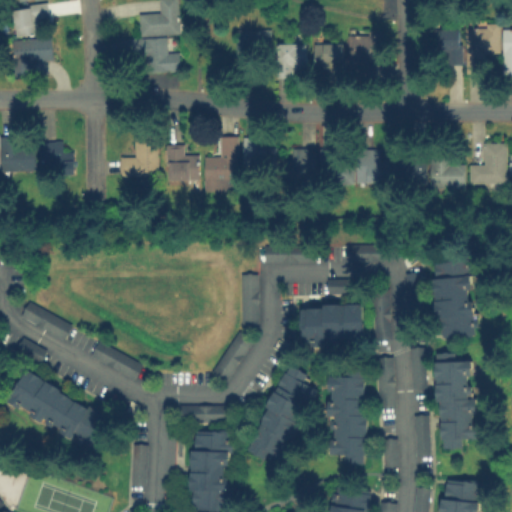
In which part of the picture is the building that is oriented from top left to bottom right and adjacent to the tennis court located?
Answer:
bottom left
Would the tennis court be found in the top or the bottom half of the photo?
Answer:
bottom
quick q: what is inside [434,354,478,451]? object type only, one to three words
building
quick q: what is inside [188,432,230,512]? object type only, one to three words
building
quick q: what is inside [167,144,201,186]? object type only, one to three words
house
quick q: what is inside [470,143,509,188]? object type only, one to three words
house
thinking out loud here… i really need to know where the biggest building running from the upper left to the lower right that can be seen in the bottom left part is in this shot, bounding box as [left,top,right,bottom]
[8,372,96,442]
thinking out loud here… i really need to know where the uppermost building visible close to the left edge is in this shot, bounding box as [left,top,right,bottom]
[12,4,50,38]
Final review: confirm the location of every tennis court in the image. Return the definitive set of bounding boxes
[18,470,113,512]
